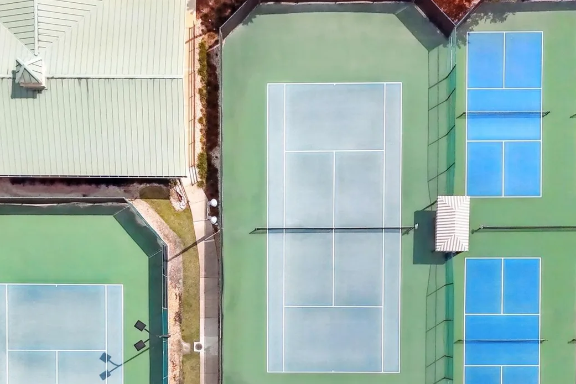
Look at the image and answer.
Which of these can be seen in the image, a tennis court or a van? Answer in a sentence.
Visible in the photo is a tennis court.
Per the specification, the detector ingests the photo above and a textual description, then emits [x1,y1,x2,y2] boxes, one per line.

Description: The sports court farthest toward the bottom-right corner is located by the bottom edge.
[465,257,540,384]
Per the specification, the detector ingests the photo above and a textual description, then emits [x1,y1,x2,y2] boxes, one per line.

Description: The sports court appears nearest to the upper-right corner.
[467,31,544,196]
